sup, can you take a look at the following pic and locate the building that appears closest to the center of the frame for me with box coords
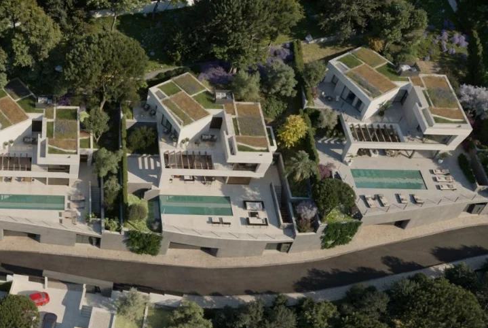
[132,72,297,259]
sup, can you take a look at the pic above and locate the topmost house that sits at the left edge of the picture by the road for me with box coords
[0,81,104,254]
